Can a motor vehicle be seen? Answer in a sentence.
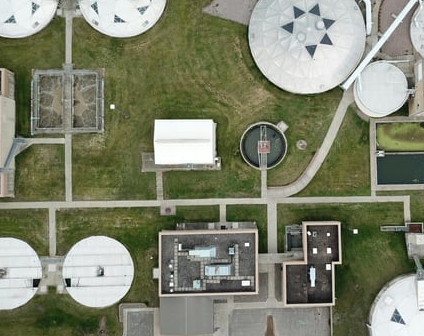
No, I can see no motor vehicle in this picture.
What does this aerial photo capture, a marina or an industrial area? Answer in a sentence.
This image shows an industrial area.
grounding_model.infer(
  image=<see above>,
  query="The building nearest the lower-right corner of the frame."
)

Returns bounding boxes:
[281,219,341,307]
